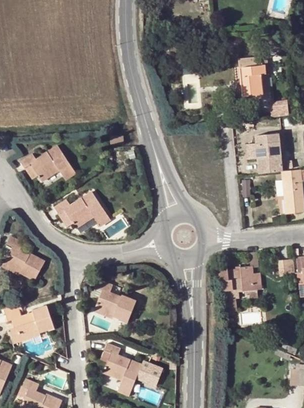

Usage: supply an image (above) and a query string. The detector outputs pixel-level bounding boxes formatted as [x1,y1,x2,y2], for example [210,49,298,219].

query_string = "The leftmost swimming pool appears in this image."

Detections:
[22,336,54,358]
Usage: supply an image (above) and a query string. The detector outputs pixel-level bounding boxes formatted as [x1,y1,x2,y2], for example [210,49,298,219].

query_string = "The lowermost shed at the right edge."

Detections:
[290,365,304,388]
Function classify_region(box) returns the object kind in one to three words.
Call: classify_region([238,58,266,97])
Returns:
house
